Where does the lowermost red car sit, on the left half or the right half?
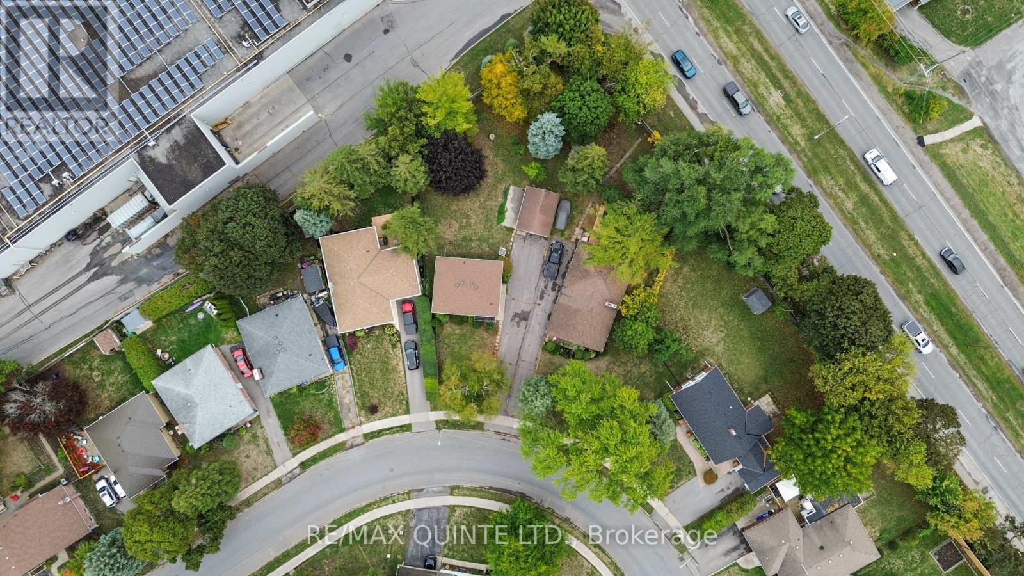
left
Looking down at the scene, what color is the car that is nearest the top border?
white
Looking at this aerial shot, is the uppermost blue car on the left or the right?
right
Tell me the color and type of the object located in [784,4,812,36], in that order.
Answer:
white car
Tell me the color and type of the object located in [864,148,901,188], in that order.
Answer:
white truck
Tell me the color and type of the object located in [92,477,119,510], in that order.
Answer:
white car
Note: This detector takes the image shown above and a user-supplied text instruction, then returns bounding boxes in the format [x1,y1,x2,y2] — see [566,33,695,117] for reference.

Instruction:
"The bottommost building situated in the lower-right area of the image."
[740,502,882,576]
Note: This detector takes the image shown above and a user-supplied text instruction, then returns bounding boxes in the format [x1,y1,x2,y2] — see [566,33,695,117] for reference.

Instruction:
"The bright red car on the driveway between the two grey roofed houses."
[230,347,253,380]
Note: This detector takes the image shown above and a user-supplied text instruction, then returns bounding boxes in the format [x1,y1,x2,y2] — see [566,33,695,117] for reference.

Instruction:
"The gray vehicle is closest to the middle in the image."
[542,240,563,279]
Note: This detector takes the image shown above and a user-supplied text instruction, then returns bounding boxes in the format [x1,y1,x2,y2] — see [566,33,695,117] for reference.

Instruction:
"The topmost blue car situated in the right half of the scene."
[670,47,697,80]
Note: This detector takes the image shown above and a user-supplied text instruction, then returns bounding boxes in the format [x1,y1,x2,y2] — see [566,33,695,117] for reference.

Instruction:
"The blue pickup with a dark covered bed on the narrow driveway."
[322,333,347,373]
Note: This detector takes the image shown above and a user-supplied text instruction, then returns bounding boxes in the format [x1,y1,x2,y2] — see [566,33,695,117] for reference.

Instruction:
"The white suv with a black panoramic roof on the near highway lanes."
[900,318,935,356]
